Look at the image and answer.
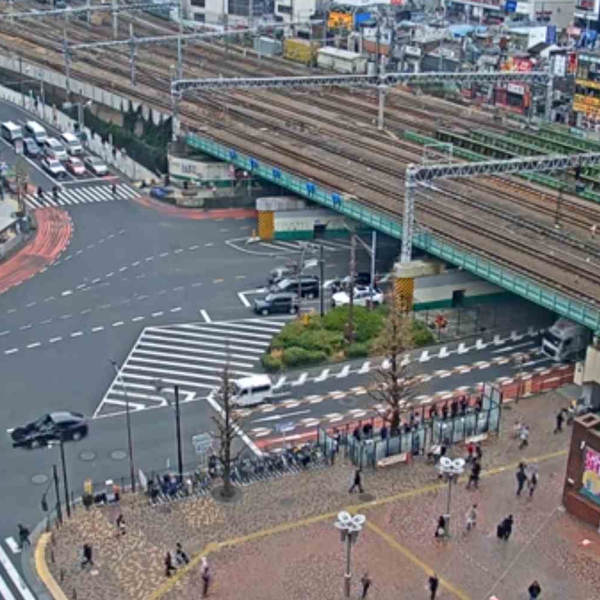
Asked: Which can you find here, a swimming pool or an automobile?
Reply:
automobile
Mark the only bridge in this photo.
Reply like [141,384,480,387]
[185,124,600,345]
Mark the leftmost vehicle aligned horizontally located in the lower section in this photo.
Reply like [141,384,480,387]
[18,411,91,445]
